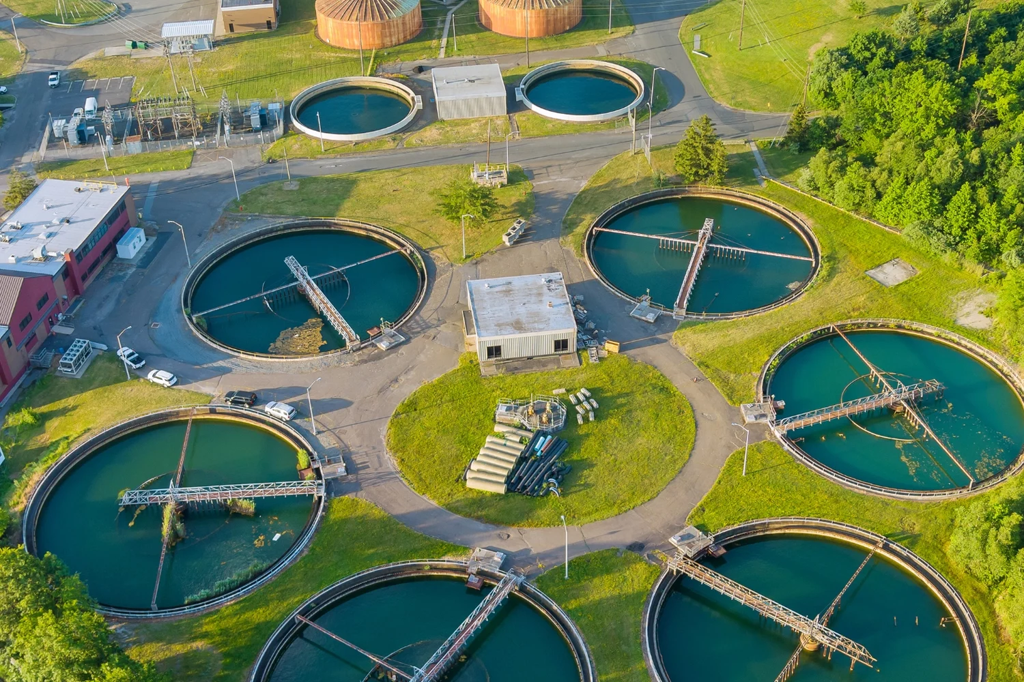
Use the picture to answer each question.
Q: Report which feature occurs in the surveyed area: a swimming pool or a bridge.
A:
bridge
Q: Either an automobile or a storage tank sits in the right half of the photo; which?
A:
storage tank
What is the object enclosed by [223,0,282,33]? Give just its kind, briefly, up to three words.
building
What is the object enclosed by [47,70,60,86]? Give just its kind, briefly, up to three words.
vehicle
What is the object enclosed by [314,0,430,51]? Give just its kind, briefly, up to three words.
storage tank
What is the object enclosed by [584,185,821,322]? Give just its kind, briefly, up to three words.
storage tank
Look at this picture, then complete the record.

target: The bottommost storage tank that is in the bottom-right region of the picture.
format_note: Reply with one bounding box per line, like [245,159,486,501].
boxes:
[646,517,984,682]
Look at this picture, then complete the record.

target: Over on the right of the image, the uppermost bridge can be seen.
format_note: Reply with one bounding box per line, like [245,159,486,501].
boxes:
[674,218,714,322]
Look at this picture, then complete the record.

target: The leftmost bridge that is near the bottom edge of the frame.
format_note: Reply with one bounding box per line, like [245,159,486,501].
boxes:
[410,567,529,682]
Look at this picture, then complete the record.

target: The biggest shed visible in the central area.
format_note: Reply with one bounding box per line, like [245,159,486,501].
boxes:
[457,271,579,361]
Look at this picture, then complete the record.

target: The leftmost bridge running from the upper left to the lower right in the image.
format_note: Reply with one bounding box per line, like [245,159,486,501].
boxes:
[284,257,363,356]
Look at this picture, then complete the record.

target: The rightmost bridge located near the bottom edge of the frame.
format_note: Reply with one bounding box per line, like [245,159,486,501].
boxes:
[658,551,875,669]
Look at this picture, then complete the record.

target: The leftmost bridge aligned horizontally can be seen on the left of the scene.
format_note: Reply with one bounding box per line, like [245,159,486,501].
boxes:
[120,478,334,508]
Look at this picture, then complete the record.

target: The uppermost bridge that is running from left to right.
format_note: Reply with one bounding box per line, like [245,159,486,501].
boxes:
[762,381,948,437]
